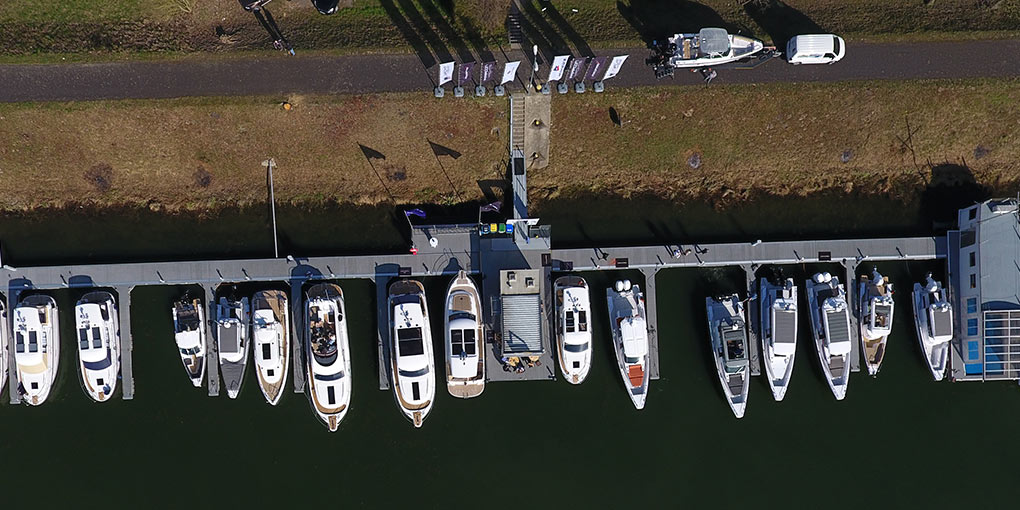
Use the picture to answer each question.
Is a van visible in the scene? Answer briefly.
Yes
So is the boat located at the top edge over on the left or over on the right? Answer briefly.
right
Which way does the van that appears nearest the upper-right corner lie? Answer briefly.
from left to right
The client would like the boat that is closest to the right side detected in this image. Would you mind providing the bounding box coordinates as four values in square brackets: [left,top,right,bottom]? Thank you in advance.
[944,194,1020,383]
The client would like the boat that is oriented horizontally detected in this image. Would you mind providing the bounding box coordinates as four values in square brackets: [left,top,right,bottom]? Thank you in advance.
[655,24,764,64]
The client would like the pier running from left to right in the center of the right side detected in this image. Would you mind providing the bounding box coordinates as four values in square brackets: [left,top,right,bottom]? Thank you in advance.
[552,236,945,381]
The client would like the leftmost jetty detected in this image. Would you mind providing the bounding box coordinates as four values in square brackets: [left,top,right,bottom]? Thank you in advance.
[0,251,481,405]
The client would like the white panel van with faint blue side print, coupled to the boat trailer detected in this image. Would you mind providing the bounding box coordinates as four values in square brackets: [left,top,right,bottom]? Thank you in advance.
[783,33,845,66]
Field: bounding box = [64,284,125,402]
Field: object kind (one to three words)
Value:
boat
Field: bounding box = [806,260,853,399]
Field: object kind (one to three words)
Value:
boat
